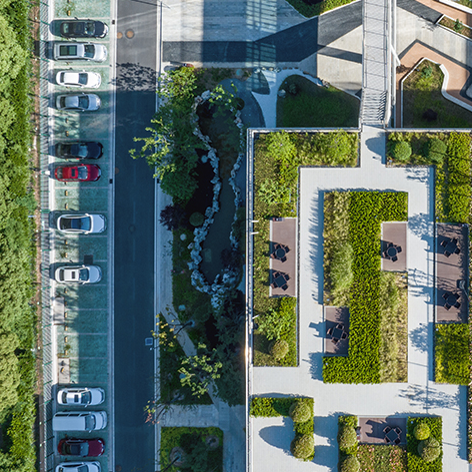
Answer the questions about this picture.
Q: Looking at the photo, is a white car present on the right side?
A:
No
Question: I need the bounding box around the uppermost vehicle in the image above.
[59,18,110,40]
